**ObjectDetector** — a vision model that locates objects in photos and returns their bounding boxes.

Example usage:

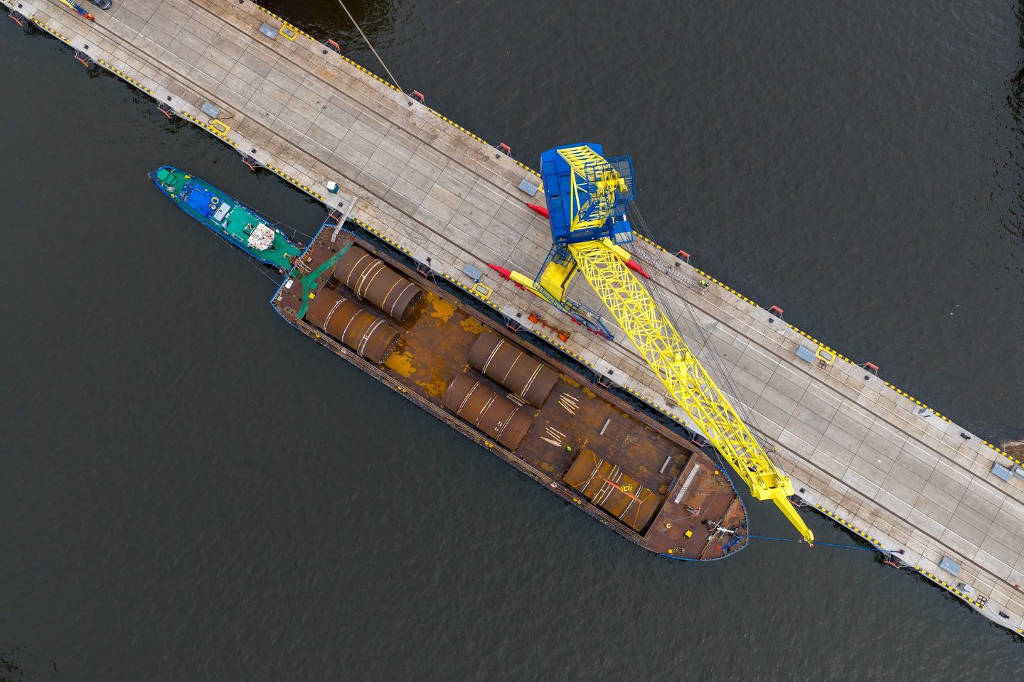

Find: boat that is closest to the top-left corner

[146,165,302,275]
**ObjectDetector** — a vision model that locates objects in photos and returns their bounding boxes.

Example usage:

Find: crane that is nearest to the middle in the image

[488,143,817,558]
